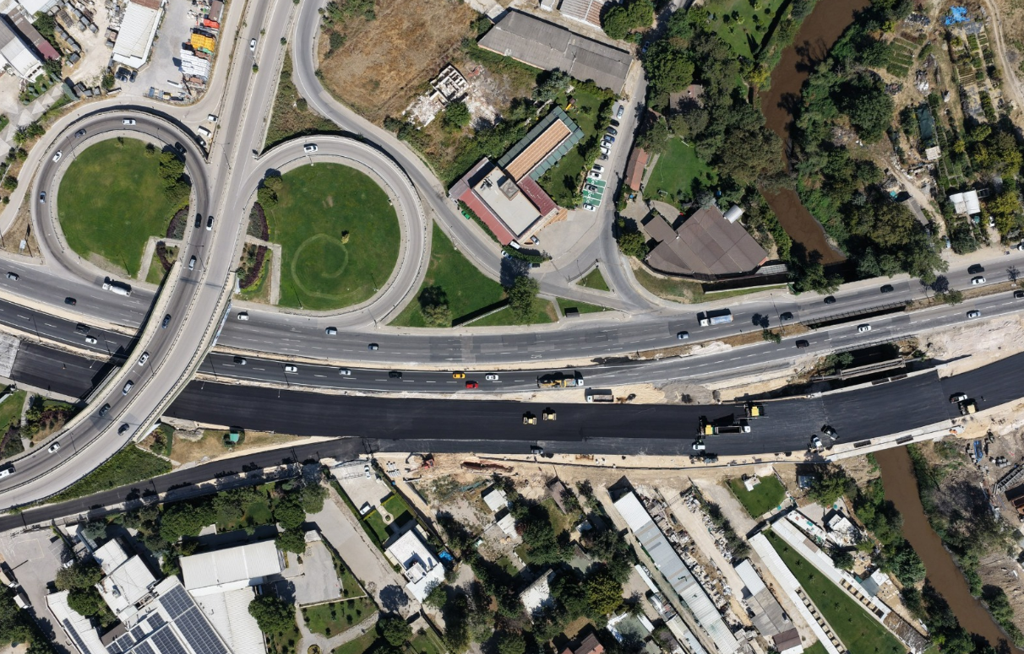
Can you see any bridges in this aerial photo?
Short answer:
Yes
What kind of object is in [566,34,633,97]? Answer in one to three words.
shed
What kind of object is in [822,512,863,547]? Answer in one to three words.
house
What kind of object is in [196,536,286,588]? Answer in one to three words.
building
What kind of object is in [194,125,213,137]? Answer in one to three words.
vehicle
